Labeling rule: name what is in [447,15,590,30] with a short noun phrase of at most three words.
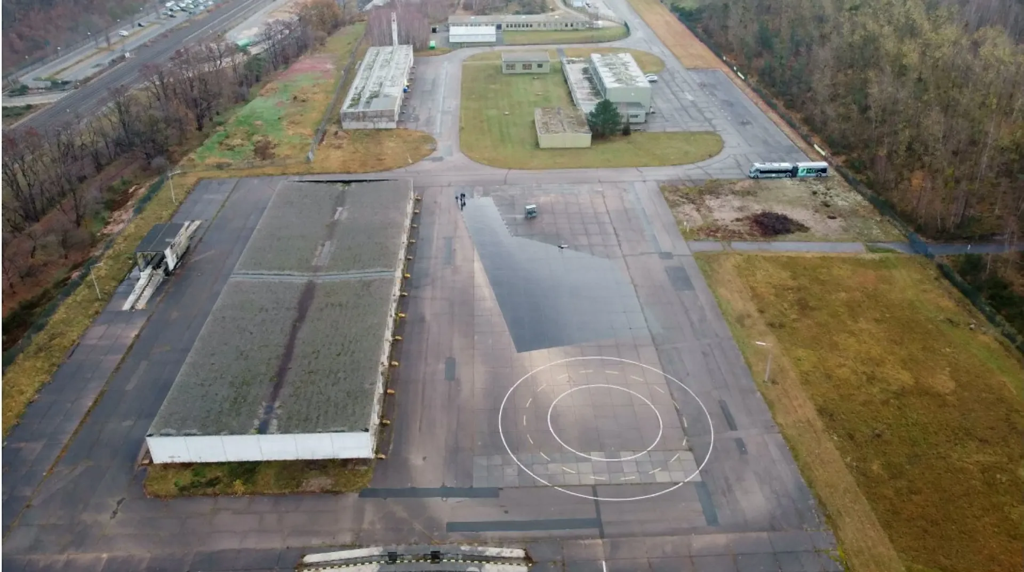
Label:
building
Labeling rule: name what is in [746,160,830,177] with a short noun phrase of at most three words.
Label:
vehicle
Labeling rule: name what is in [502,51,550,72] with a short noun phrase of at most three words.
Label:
shed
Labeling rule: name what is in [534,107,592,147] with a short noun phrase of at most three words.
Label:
shed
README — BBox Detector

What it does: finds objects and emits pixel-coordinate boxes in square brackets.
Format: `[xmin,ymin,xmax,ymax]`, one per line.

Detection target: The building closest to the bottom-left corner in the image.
[135,177,416,463]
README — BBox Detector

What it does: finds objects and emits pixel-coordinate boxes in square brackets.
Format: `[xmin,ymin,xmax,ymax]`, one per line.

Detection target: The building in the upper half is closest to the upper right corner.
[562,53,653,121]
